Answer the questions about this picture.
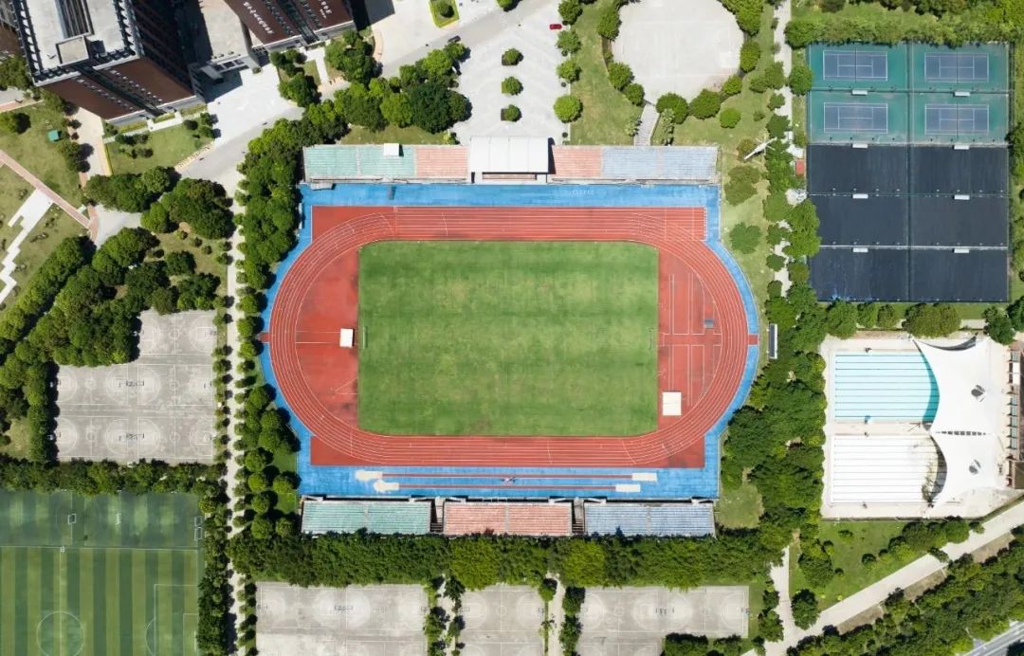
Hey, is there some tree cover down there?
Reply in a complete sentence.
Yes, tree cover can be seen from above here.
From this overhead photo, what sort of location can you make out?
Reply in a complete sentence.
What you see here is a sports ground.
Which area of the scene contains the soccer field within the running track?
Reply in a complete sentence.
The soccer field within the running track is in the center part of the image.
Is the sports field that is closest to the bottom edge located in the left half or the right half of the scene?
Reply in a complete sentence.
You can find the sports field that is closest to the bottom edge on the left side of the picture.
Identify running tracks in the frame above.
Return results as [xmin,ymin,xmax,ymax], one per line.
[260,185,759,499]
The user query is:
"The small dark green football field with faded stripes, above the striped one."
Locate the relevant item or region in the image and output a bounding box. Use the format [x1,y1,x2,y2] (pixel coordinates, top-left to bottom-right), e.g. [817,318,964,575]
[0,491,203,546]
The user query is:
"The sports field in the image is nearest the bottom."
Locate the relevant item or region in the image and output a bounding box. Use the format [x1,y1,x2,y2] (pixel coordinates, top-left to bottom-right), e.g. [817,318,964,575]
[0,544,203,656]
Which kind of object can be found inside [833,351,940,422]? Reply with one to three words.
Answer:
swimming pool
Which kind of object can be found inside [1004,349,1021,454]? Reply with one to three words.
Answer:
building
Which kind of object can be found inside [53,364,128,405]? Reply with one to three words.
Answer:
basketball court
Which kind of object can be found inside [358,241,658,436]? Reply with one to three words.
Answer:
soccer field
